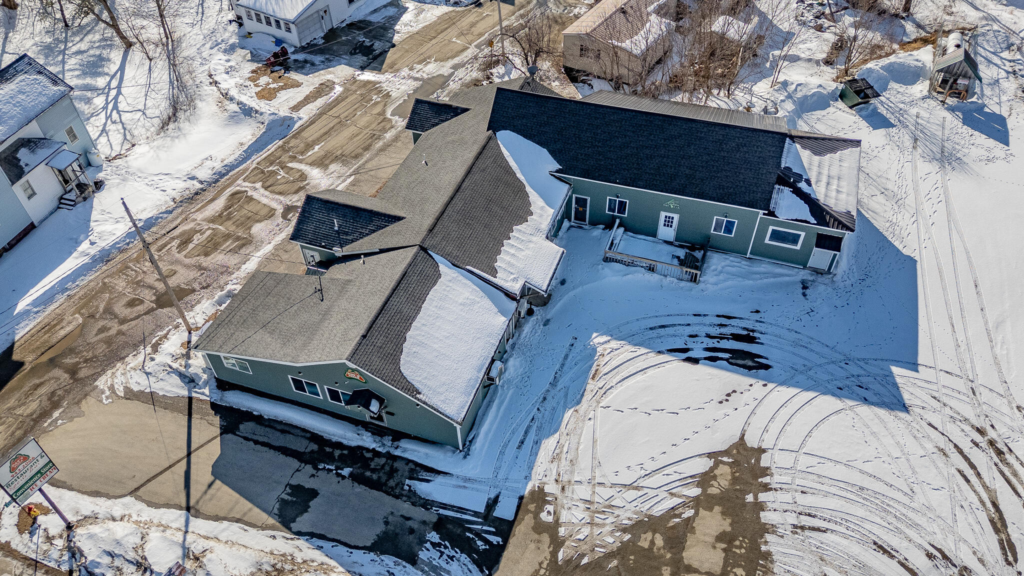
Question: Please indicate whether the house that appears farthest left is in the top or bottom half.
top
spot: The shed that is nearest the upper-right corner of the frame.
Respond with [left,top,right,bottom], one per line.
[939,49,986,95]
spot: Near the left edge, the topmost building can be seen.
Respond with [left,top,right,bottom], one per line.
[0,52,98,253]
